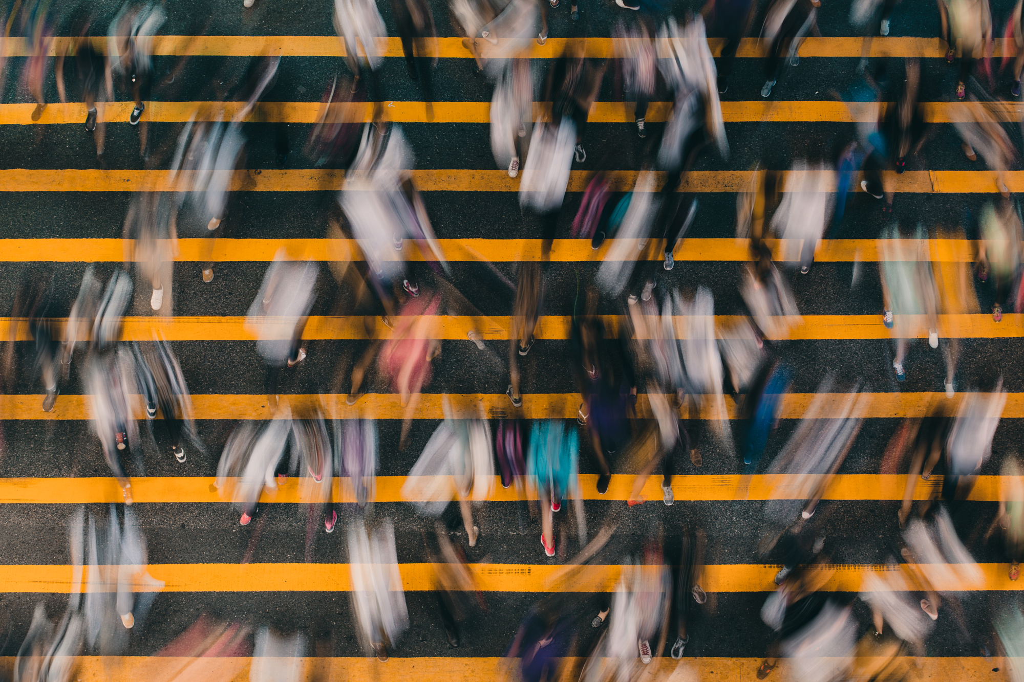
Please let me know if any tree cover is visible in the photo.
No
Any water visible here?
No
